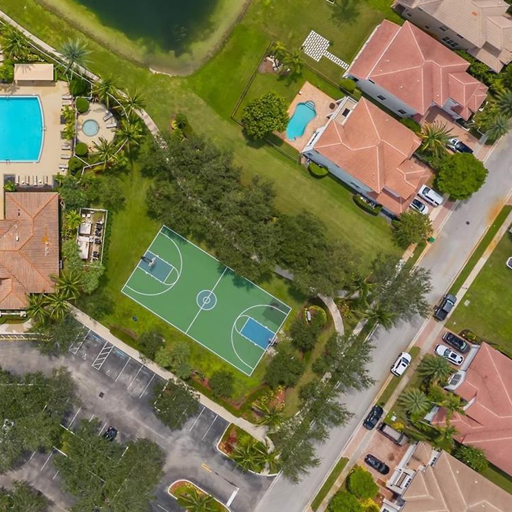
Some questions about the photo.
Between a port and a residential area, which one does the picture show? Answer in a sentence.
The area seen from above is a residential area.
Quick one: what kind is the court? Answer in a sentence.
I'd identify the court as a basketball court.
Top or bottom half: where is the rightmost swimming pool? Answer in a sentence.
It is in the top half that the rightmost swimming pool appears.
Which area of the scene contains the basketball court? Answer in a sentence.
The basketball court is in the center part of the image.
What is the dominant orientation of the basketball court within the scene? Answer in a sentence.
I'd say the basketball court is aligned at an angle in the picture.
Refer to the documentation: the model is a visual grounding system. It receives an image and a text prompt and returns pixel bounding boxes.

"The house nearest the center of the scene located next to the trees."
[301,97,430,216]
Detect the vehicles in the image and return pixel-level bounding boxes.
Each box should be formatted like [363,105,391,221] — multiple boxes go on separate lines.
[436,345,458,361]
[407,196,431,216]
[364,403,385,431]
[433,291,457,323]
[364,453,389,475]
[443,331,466,349]
[101,422,119,444]
[390,352,412,379]
[378,423,406,444]
[447,137,473,154]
